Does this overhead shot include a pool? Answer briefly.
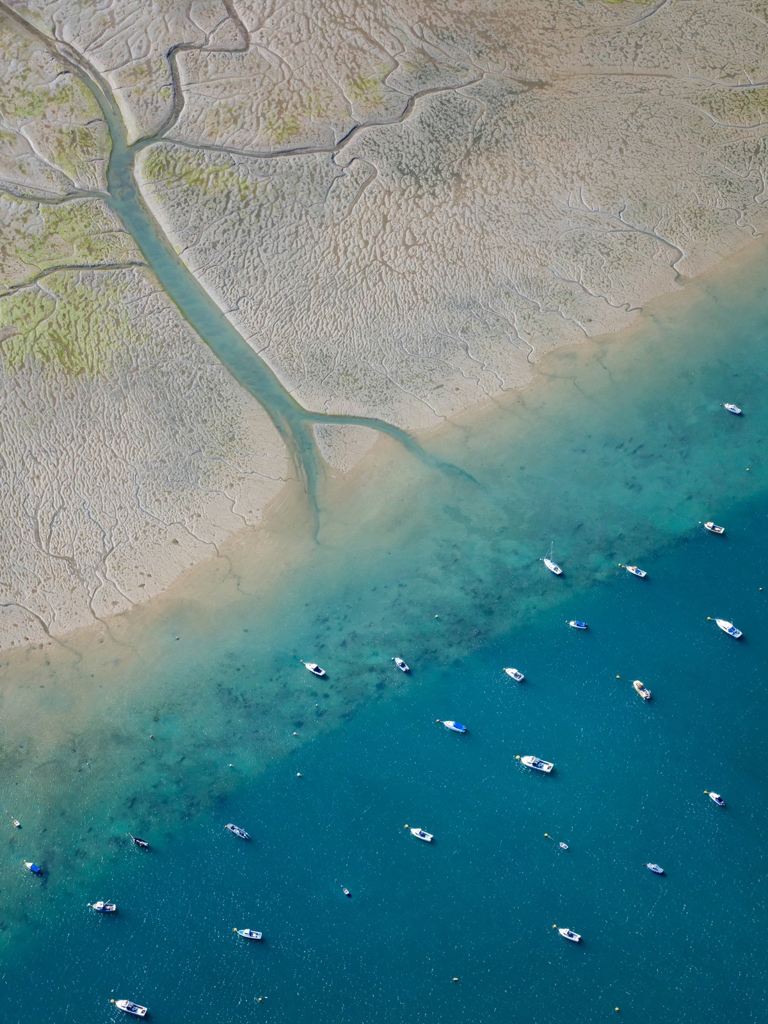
No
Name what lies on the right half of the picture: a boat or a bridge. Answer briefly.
boat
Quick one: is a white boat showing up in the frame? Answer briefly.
Yes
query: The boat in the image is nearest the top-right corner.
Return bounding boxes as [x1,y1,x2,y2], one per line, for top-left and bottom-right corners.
[724,403,741,415]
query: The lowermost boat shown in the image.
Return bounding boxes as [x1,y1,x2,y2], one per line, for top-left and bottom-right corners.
[115,999,149,1017]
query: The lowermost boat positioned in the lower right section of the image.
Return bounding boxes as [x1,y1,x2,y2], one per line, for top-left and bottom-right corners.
[558,928,582,943]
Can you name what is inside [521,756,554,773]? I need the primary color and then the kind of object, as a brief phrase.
white boat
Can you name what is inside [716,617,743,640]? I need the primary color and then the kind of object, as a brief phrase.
white boat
